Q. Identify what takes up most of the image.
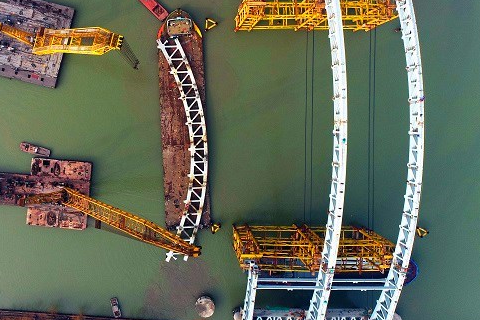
water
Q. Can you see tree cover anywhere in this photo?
No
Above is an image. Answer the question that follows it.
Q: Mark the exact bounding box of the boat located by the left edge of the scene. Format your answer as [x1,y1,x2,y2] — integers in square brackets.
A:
[19,141,51,156]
